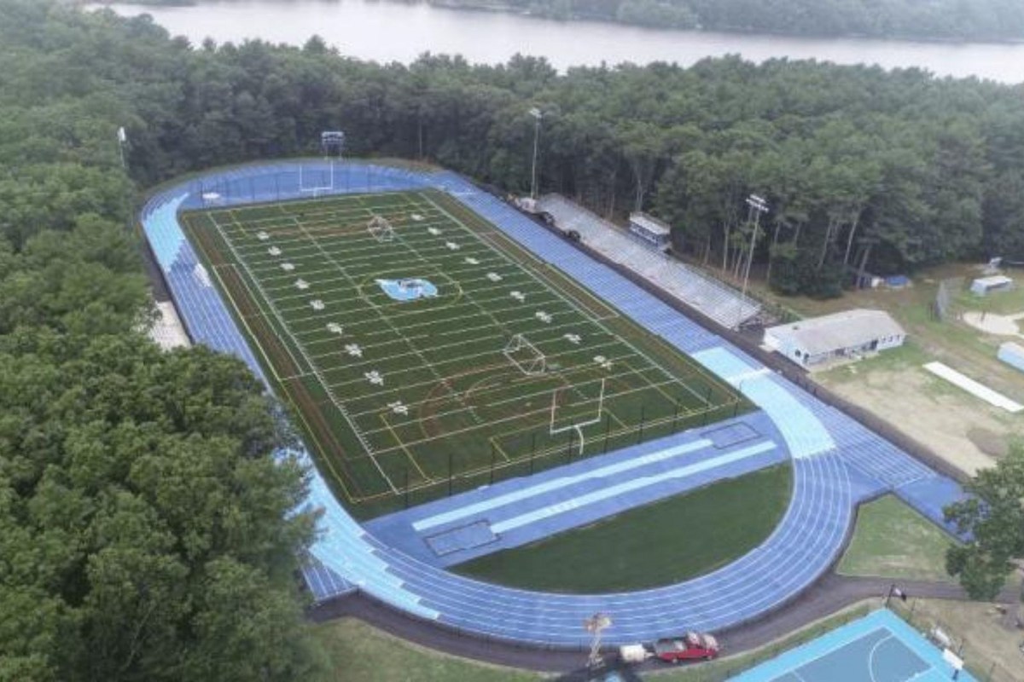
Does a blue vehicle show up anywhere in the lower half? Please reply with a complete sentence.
No, there's no blue vehicle to be seen in the lower half.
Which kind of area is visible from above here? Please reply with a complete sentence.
What you see here is a sports ground.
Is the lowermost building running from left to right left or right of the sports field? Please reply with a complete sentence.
Looking at the picture, you'll find the lowermost building running from left to right to the right of the sports field.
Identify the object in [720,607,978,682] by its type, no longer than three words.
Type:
basketball court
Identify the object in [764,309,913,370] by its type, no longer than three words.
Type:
building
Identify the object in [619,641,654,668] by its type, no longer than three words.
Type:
trailer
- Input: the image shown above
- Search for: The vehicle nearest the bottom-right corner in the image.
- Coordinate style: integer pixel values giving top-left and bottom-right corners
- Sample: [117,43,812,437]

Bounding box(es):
[655,635,722,666]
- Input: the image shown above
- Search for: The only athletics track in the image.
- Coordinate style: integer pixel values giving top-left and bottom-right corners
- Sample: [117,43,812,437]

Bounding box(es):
[138,160,998,645]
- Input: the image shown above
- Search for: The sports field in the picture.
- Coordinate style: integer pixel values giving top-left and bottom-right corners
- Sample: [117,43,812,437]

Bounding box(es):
[173,184,763,524]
